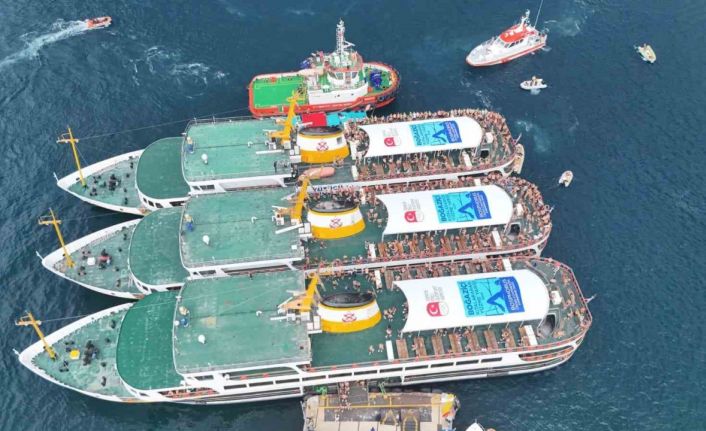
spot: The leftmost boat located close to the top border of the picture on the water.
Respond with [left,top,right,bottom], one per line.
[82,18,112,31]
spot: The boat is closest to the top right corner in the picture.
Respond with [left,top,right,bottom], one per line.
[635,45,657,61]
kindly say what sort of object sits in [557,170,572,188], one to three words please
boat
